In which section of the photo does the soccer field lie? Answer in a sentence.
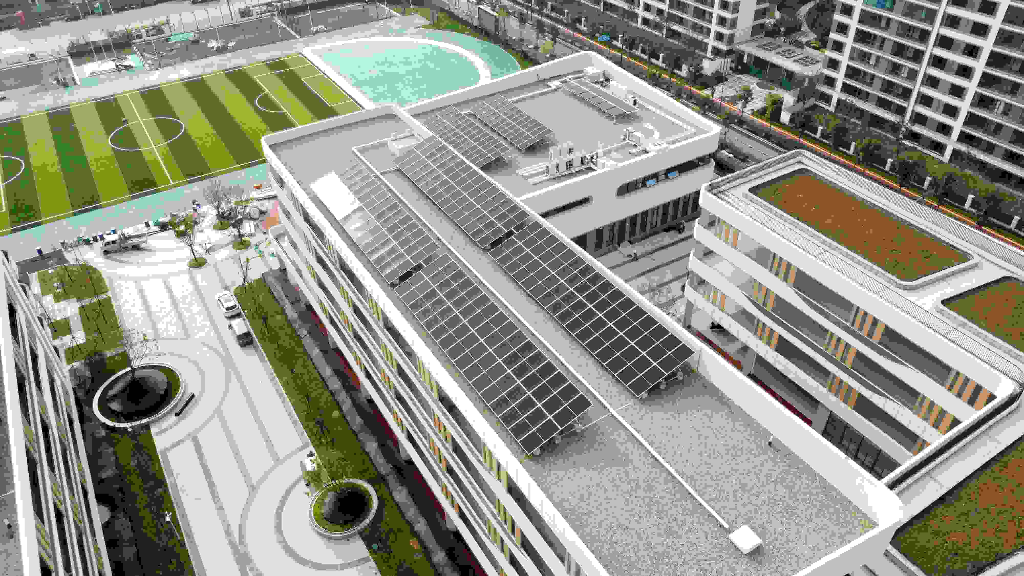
The soccer field is located in the top left region of the scene.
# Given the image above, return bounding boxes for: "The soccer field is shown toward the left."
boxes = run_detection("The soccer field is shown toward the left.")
[0,53,367,235]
